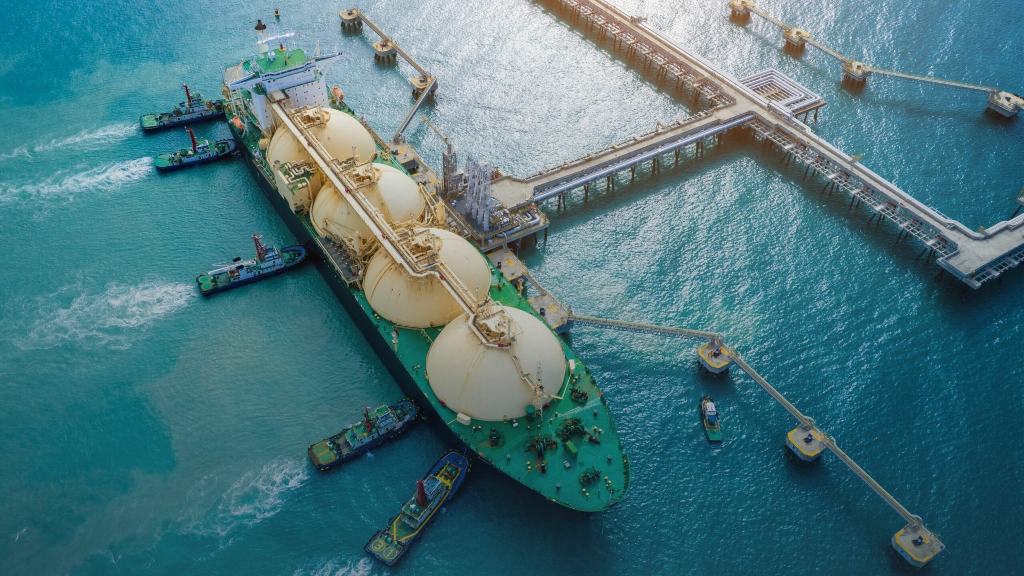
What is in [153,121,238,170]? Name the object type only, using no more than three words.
boat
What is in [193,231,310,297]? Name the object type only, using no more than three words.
boat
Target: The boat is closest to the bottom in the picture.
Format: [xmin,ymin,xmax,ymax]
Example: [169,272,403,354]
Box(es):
[363,449,467,569]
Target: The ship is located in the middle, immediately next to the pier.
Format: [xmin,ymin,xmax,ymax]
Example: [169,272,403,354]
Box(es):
[219,18,629,525]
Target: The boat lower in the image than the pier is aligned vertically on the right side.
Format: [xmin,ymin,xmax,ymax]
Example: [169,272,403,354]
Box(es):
[702,393,726,442]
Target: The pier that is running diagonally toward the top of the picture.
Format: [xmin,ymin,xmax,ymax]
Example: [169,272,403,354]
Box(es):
[556,0,1024,300]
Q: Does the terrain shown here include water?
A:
Yes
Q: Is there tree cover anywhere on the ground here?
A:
No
